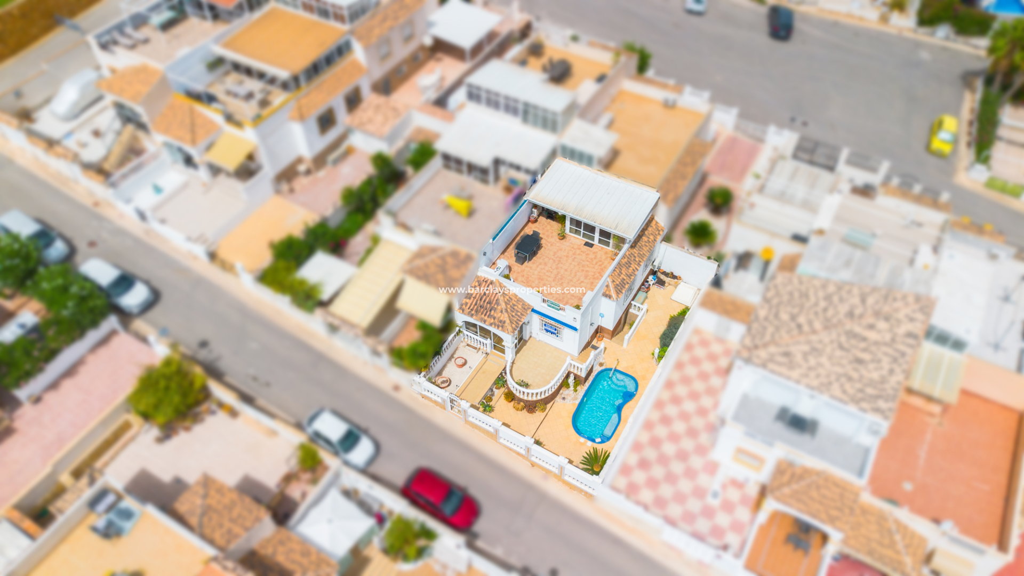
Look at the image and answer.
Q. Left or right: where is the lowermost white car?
left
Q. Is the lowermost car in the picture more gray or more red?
red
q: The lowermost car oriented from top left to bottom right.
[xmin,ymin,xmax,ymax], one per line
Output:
[397,468,476,534]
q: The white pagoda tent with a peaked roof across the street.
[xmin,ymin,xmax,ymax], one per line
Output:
[291,481,392,576]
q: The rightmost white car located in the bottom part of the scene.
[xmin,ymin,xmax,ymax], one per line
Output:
[299,409,377,472]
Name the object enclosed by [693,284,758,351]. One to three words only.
shed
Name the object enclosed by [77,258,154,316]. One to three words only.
car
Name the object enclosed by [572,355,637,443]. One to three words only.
swimming pool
